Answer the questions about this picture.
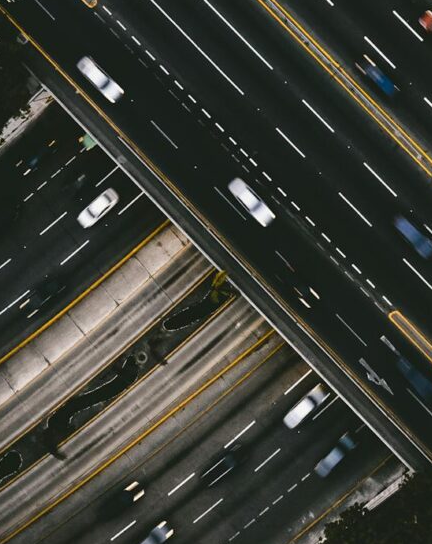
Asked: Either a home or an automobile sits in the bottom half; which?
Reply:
automobile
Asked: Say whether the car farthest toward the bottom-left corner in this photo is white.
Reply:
No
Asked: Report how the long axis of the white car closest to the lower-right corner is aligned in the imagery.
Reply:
on a diagonal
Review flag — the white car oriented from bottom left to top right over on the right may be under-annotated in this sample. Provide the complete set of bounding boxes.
[284,384,329,425]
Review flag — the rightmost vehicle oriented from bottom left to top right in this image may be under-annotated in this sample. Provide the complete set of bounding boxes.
[312,434,359,477]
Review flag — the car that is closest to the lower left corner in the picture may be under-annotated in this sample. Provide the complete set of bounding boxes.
[95,480,143,523]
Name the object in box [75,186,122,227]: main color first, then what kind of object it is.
white car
